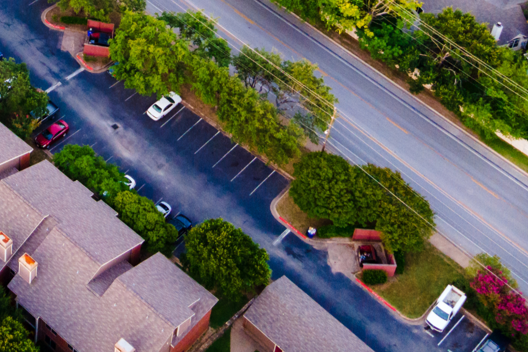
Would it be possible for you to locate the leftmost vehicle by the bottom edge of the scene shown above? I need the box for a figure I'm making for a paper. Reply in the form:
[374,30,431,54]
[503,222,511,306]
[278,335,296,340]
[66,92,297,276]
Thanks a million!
[429,279,466,335]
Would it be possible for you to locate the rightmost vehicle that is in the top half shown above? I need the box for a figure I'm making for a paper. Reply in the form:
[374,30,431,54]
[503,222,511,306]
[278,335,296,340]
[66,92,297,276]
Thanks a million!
[146,93,184,120]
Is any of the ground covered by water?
No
